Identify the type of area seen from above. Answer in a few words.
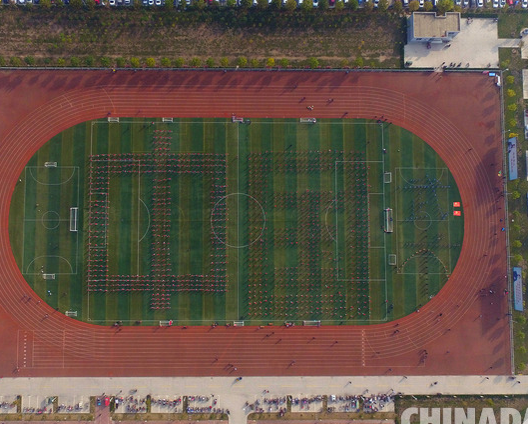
sports ground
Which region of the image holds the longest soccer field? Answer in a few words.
center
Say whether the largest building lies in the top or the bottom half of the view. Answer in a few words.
top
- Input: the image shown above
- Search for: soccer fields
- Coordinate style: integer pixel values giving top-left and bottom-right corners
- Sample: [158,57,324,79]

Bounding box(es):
[22,165,83,277]
[8,117,465,325]
[393,167,452,278]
